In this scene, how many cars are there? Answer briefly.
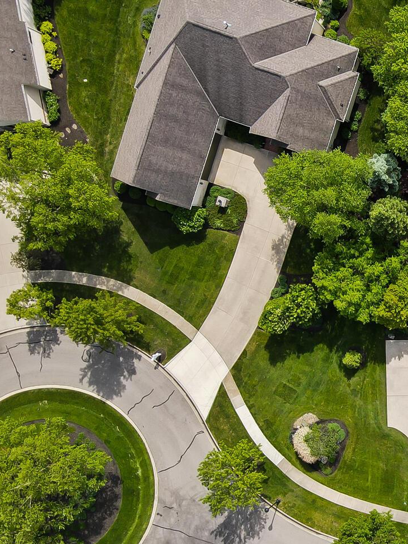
0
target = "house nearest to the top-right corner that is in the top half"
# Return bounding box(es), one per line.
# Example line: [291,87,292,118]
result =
[110,0,371,210]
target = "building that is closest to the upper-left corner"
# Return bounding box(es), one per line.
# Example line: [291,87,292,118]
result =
[0,0,55,132]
